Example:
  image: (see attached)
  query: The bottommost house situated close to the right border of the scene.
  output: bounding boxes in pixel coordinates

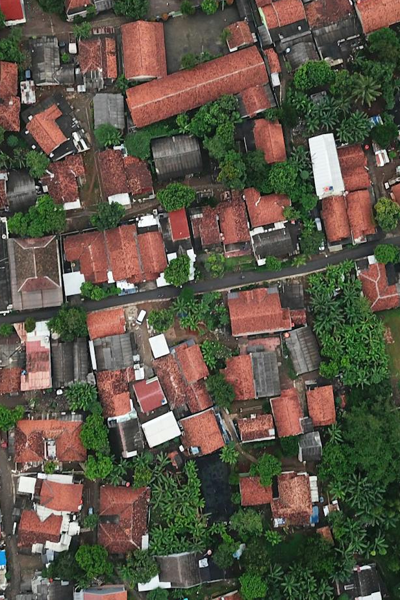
[355,566,382,597]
